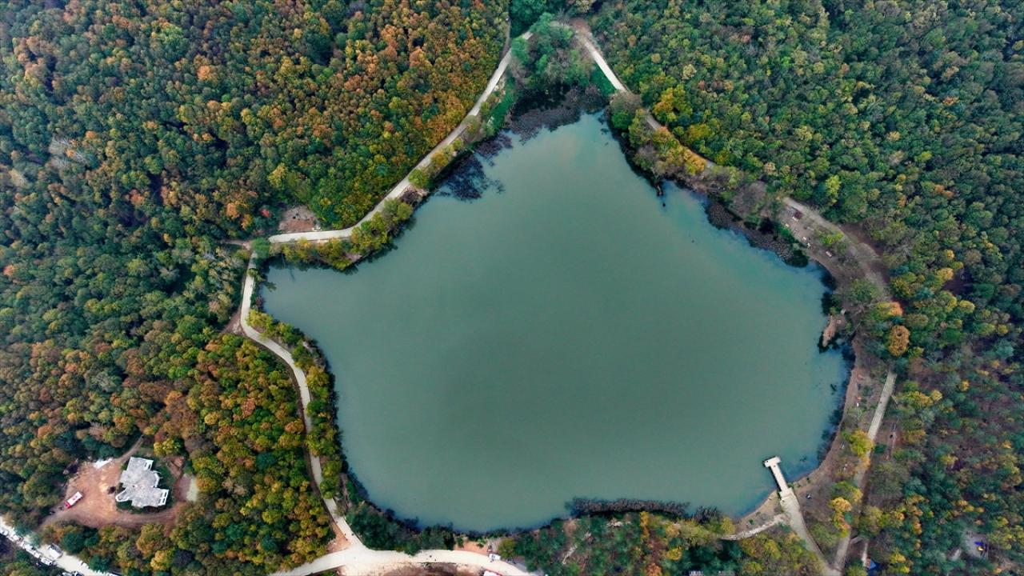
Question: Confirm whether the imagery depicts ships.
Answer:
No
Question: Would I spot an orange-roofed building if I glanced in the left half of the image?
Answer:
No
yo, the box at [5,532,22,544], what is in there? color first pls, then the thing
white vehicle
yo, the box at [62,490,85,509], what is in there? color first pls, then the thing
white vehicle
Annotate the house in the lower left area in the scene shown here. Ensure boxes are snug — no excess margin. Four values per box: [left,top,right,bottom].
[115,457,170,508]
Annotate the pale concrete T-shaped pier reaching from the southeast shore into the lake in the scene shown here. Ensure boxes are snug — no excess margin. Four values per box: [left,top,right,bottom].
[764,457,794,500]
